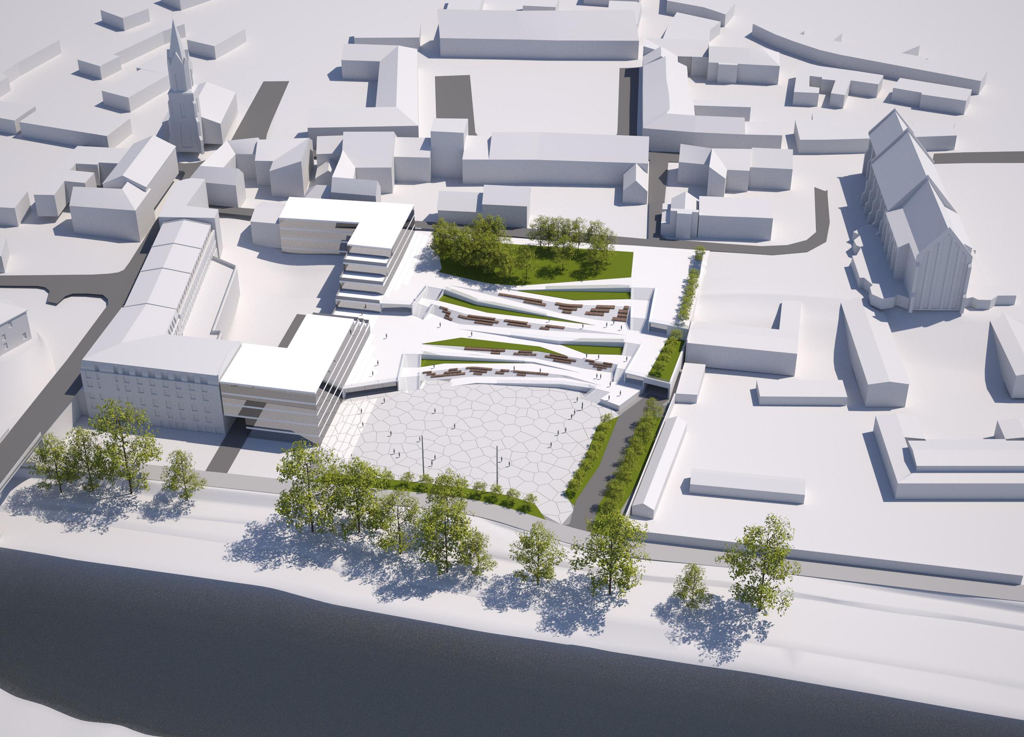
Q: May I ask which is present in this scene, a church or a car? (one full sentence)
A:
There is a church in the scene.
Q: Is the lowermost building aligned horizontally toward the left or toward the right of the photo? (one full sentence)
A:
The lowermost building aligned horizontally is on the right side of the image.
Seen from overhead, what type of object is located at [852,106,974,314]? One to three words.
church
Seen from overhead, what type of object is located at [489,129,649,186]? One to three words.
building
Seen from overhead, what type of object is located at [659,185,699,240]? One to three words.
house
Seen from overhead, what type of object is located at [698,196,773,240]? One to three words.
building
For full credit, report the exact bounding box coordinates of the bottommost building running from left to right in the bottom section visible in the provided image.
[689,477,805,504]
